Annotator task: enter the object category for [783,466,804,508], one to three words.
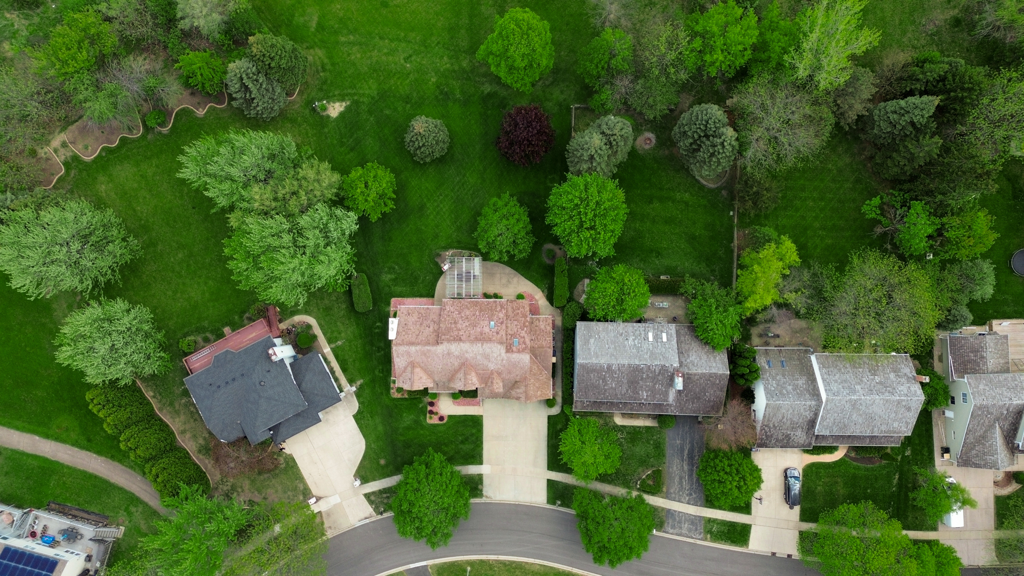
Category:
car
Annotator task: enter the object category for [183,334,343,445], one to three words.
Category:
house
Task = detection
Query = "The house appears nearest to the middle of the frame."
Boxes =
[389,299,553,403]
